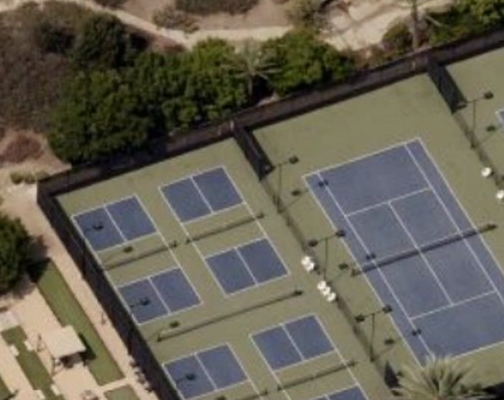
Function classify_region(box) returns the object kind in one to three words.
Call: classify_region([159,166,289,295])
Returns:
sports court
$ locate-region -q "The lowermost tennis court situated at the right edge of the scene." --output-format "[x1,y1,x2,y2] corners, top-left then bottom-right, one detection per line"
[305,140,504,369]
